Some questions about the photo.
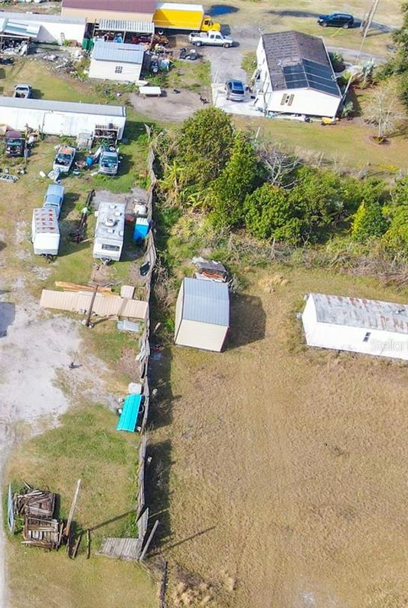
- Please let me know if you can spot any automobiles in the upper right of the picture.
Yes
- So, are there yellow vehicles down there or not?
Yes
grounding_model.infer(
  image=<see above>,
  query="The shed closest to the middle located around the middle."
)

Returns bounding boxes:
[173,284,235,351]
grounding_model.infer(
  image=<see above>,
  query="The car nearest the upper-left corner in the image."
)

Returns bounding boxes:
[14,84,32,102]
